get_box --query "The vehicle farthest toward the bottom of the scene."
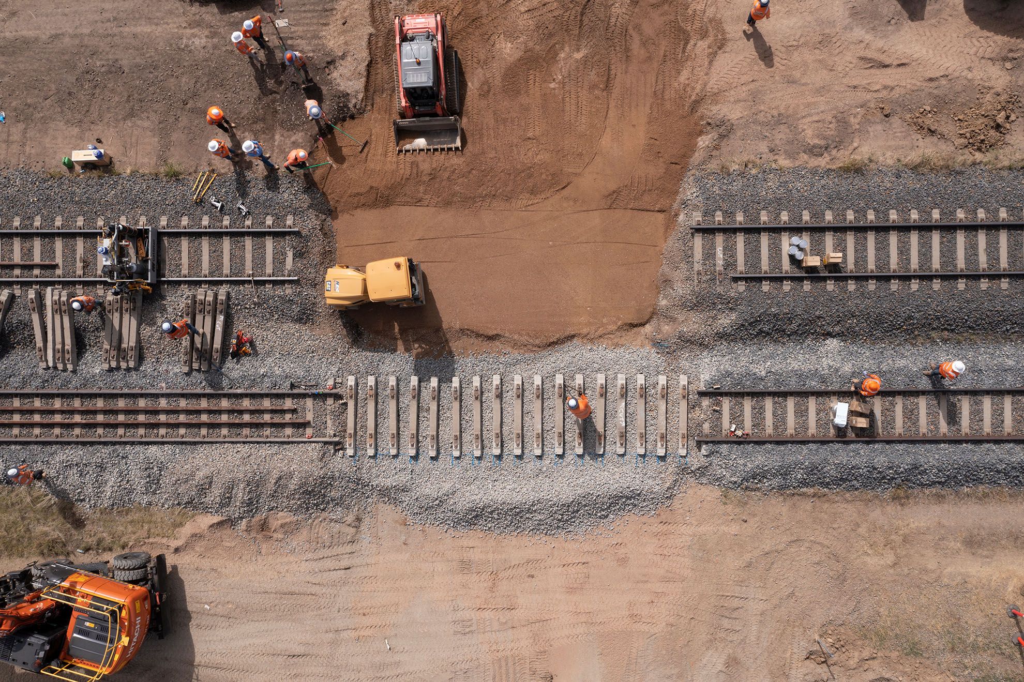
[0,551,172,682]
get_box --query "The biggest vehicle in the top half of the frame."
[389,13,464,159]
